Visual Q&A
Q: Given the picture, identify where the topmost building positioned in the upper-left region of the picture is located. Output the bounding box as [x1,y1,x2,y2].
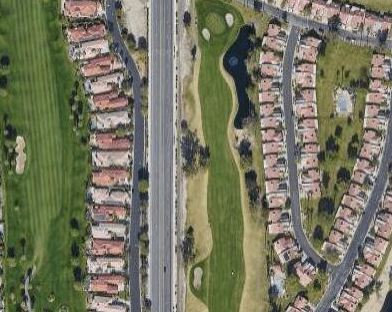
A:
[64,0,105,16]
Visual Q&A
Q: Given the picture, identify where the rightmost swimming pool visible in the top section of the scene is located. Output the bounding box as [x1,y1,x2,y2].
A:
[335,91,353,115]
